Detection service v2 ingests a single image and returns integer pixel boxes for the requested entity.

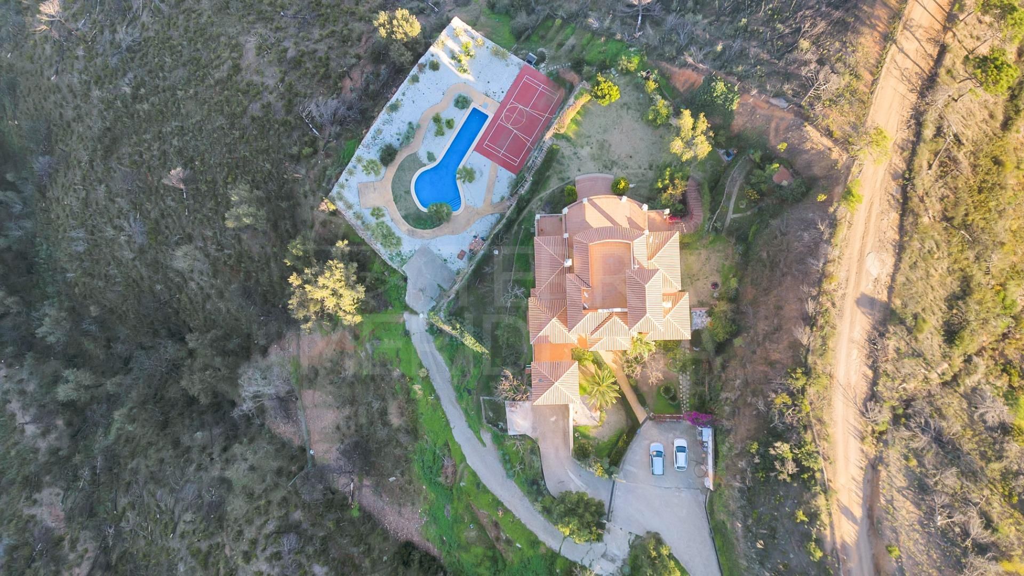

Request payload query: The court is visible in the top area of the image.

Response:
[474,64,563,174]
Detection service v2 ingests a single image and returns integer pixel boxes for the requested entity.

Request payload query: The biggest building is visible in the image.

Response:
[528,196,691,405]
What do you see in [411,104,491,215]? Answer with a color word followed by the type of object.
blue swimming pool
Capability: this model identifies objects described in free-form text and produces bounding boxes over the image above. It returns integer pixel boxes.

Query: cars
[650,443,666,477]
[674,439,690,473]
